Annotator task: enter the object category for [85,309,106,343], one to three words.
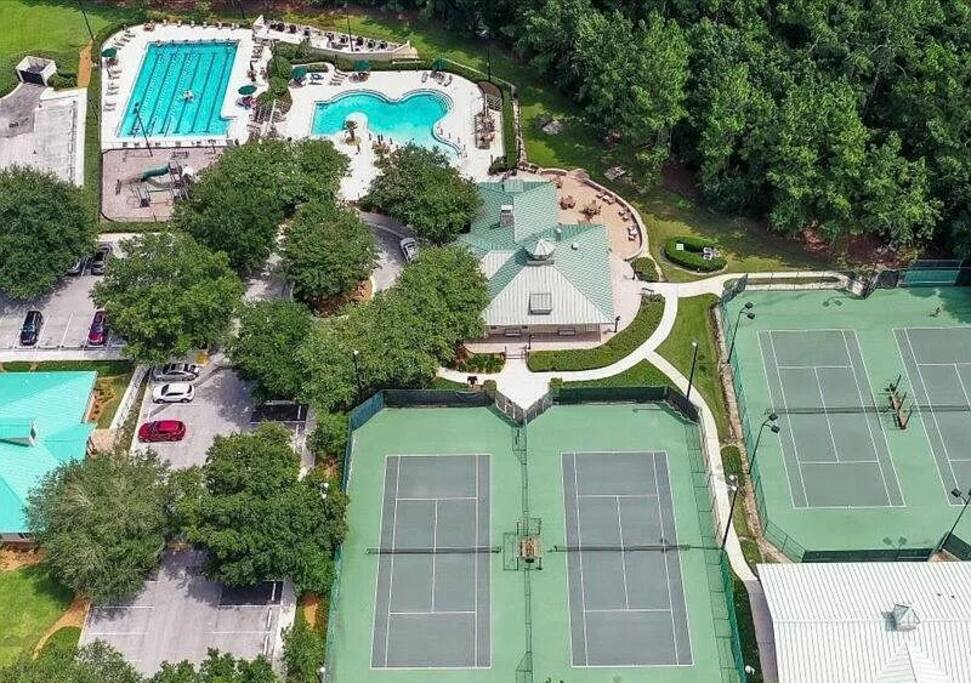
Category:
car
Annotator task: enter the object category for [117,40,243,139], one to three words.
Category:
swimming pool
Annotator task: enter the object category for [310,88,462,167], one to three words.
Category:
swimming pool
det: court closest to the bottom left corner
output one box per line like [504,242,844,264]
[324,407,525,683]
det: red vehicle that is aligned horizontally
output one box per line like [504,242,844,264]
[137,418,184,441]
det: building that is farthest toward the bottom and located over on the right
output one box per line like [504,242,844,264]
[757,561,971,683]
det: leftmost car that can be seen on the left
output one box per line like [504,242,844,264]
[16,307,40,343]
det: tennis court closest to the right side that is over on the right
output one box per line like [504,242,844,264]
[875,284,971,553]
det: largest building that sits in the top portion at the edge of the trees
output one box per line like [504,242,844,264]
[461,175,615,342]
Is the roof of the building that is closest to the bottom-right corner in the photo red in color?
No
